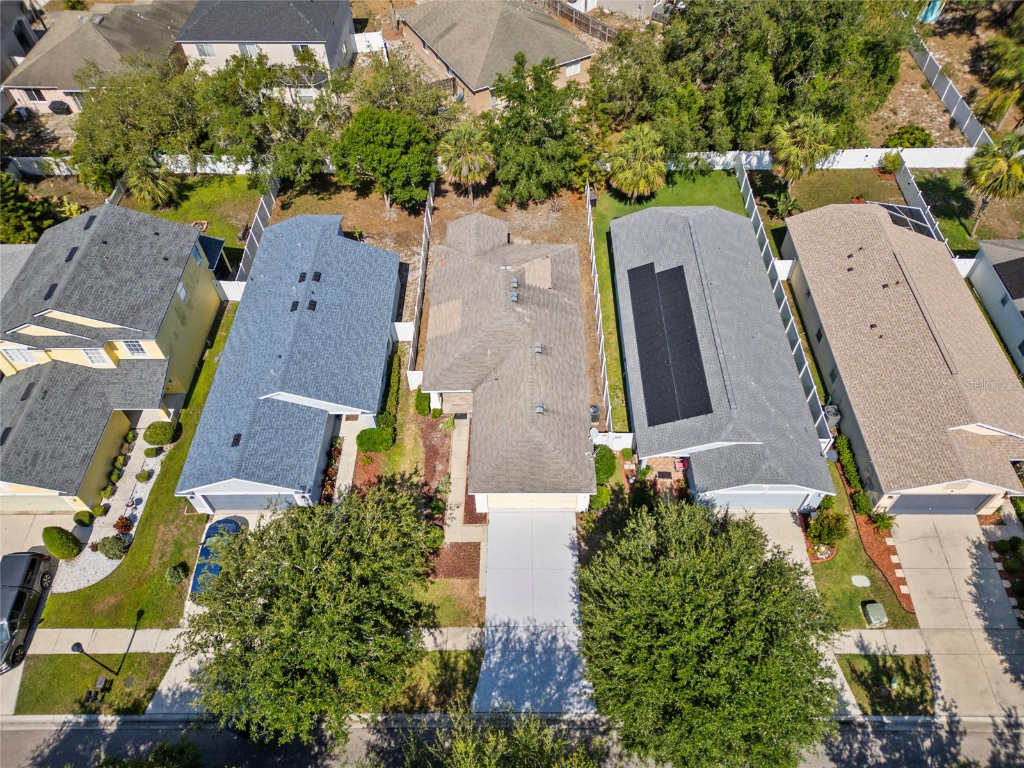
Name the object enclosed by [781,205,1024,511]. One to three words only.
house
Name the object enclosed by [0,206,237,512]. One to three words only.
house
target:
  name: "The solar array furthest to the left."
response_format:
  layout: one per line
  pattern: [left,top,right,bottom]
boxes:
[626,261,714,427]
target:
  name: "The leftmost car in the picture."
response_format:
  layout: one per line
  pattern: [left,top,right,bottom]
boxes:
[0,565,52,663]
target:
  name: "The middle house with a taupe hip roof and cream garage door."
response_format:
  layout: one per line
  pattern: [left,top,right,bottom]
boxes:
[418,213,600,510]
